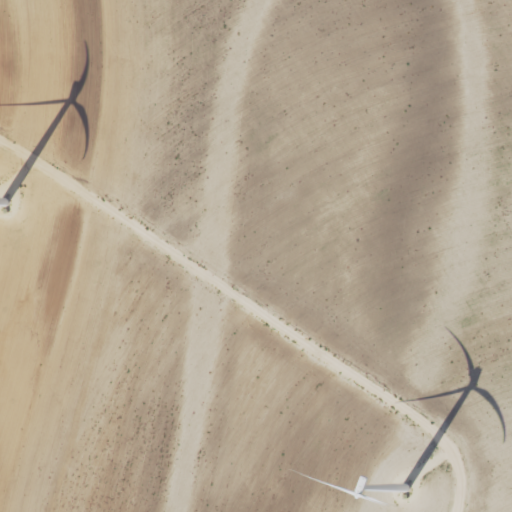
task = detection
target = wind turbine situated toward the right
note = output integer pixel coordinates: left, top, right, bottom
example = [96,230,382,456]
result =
[294,474,412,512]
